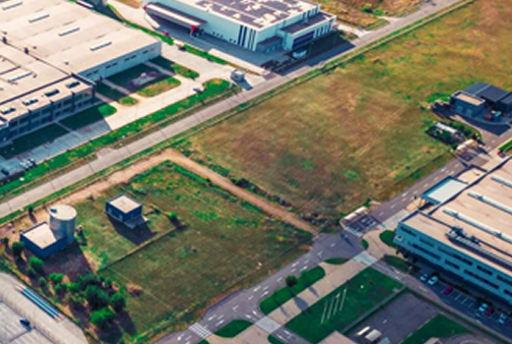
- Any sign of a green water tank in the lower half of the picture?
No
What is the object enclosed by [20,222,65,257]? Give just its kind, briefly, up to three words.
building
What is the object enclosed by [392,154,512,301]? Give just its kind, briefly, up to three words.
building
